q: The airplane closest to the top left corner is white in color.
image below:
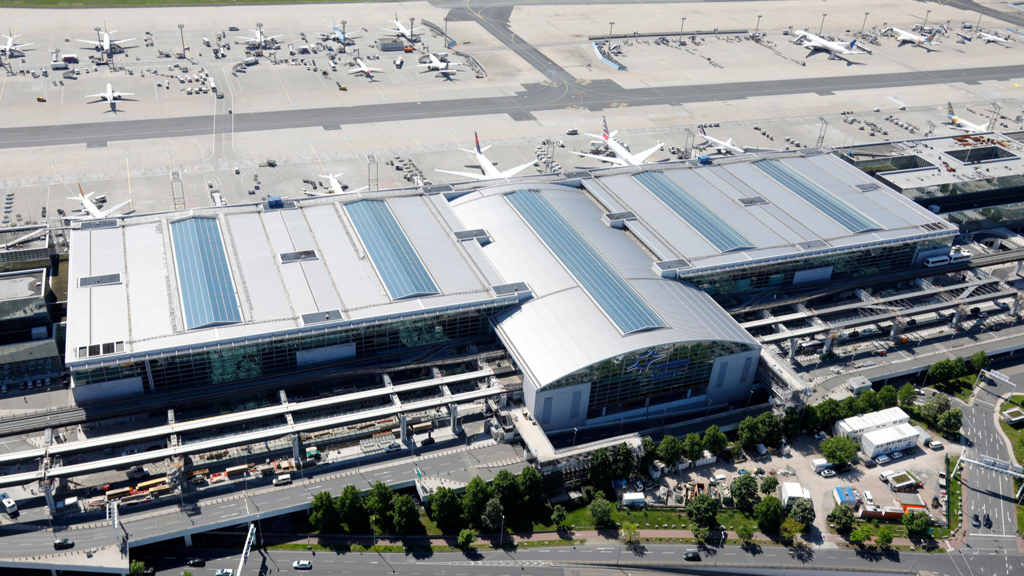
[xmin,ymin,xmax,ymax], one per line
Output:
[0,19,41,58]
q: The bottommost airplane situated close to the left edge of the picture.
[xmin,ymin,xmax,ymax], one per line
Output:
[42,175,137,219]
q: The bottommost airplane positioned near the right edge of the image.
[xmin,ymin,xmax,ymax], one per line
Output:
[944,100,1012,138]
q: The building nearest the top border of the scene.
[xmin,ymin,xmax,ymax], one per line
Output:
[374,31,405,50]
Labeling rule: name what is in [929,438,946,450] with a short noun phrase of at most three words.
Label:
vehicle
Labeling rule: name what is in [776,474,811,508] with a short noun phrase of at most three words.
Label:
building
